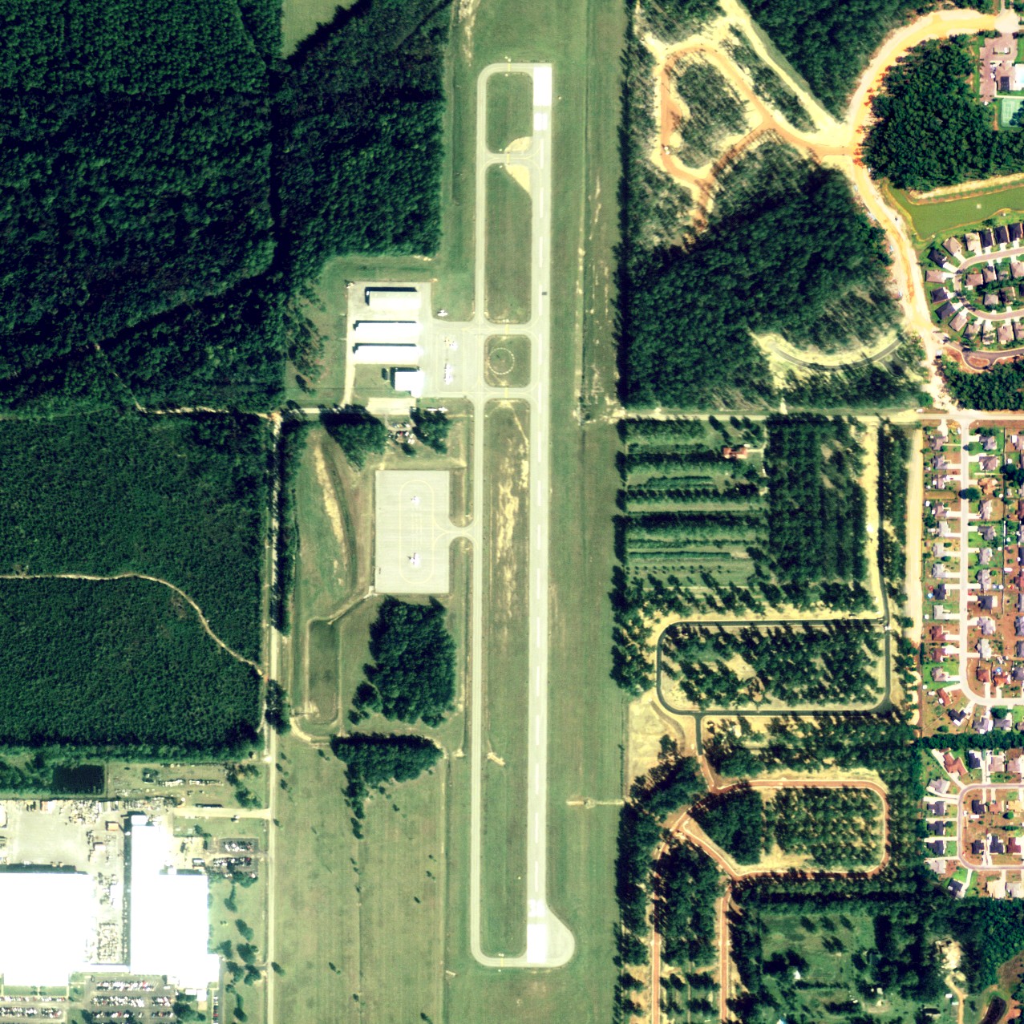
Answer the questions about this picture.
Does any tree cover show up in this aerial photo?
Yes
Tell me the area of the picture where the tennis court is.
top right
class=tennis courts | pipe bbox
[1002,98,1024,127]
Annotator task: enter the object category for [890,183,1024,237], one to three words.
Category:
pond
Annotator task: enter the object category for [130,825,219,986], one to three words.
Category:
building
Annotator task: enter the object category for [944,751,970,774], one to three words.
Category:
house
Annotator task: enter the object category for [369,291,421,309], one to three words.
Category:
hangar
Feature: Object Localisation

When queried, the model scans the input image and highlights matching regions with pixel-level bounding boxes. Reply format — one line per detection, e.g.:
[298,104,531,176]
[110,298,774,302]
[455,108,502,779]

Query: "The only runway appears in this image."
[527,63,575,967]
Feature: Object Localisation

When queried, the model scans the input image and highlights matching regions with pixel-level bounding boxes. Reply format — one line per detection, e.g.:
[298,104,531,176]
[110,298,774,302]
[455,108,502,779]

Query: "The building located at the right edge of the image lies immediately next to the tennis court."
[999,64,1015,90]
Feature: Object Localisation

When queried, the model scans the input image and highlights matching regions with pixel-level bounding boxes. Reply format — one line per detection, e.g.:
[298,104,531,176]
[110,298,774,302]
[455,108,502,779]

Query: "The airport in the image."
[348,63,575,967]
